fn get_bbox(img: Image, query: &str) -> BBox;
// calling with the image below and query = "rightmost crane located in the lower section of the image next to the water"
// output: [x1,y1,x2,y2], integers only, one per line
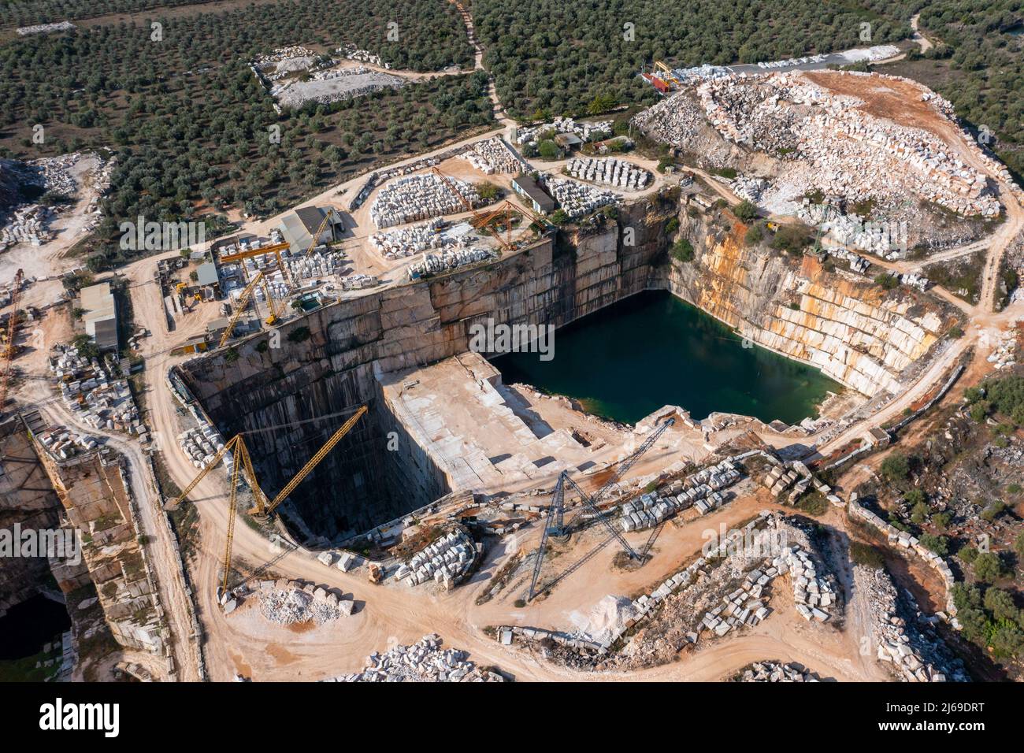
[520,417,672,612]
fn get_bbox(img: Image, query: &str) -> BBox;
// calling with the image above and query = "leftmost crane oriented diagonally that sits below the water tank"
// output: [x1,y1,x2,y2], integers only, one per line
[162,404,370,605]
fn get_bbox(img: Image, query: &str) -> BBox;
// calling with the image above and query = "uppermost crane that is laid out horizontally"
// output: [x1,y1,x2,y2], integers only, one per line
[759,199,914,256]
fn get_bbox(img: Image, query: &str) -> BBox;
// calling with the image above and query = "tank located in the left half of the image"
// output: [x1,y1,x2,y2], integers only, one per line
[288,291,328,316]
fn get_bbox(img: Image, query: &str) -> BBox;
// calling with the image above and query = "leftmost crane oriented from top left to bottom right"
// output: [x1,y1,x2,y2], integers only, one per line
[432,165,552,256]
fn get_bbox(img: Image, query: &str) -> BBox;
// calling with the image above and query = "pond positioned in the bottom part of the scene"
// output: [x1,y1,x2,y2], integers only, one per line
[0,591,71,646]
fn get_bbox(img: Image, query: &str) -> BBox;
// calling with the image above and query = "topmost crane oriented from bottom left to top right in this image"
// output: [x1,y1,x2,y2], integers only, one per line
[212,208,332,354]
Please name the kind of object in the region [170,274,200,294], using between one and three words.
work vehicle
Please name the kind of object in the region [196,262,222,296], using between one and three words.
shed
